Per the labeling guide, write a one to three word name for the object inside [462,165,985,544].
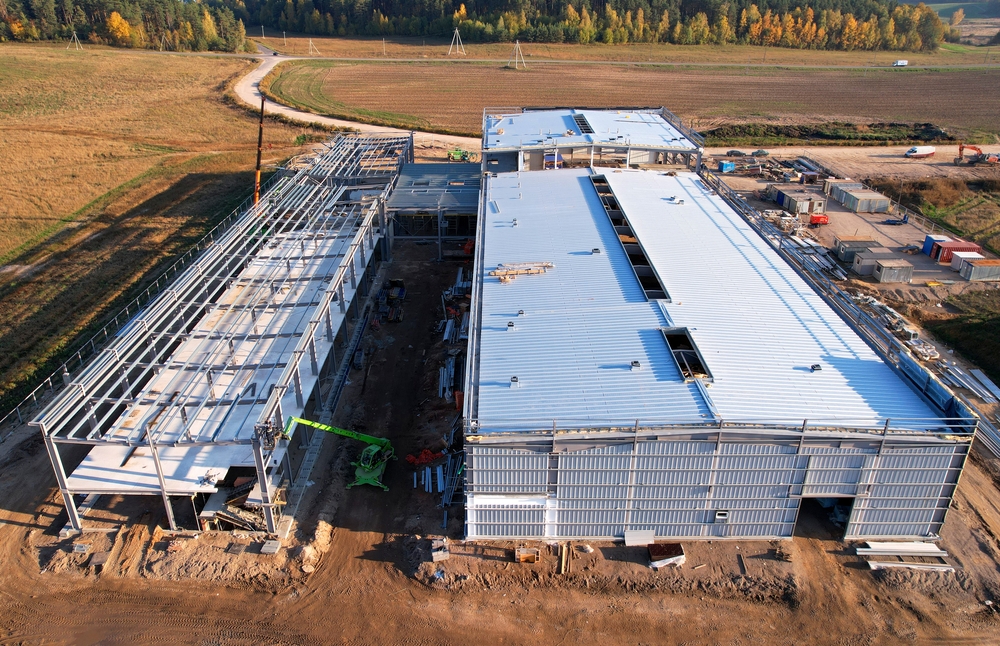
building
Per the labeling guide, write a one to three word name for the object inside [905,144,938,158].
vehicle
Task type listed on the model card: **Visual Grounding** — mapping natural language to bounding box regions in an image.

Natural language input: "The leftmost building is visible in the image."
[25,128,416,545]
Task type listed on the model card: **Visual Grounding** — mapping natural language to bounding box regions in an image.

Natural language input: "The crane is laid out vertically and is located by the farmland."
[234,94,269,240]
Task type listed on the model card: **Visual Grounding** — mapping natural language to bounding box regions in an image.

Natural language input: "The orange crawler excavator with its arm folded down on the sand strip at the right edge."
[956,142,1000,166]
